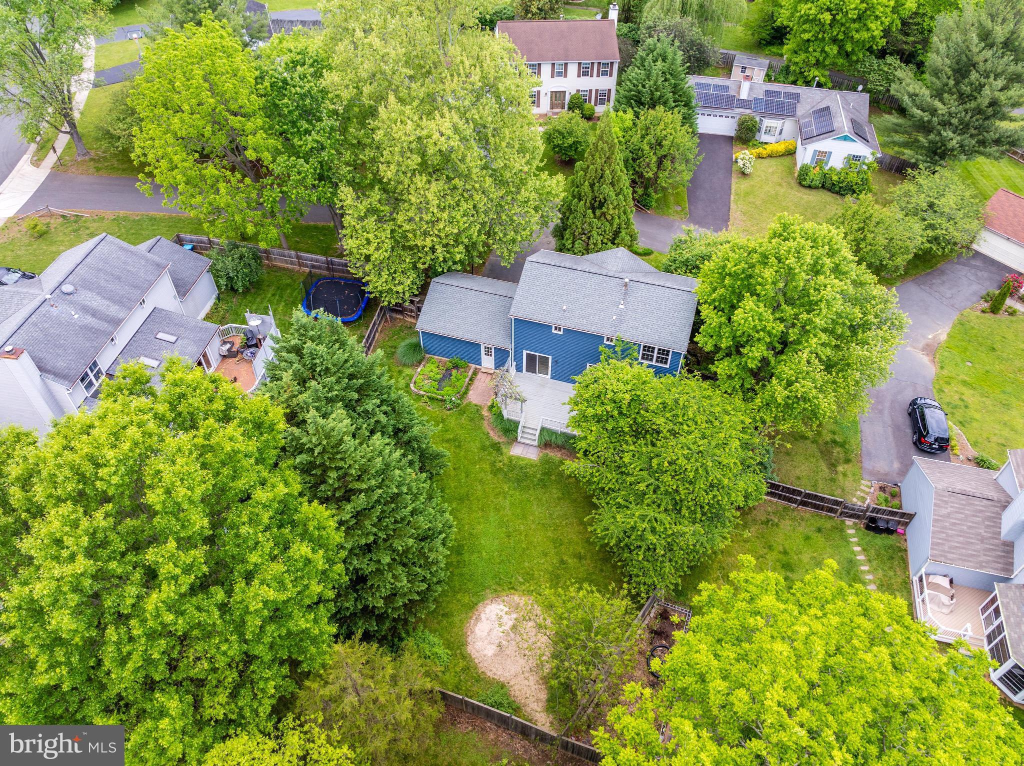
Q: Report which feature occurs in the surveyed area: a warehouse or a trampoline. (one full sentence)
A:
It is a trampoline that can be seen here.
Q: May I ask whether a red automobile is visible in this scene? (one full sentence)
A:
No, I find no red automobile anywhere in the image.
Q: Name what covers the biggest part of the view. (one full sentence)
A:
The largest share of the image is taken up by trees.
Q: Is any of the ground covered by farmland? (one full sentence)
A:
No, no farmland is visible.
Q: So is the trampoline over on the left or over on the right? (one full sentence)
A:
It is on the left.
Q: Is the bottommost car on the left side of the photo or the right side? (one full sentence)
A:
It is on the right.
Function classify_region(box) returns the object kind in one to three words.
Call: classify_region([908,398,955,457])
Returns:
car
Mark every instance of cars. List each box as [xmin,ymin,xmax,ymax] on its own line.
[908,398,955,457]
[0,261,41,278]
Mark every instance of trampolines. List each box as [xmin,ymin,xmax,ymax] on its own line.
[298,265,372,329]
